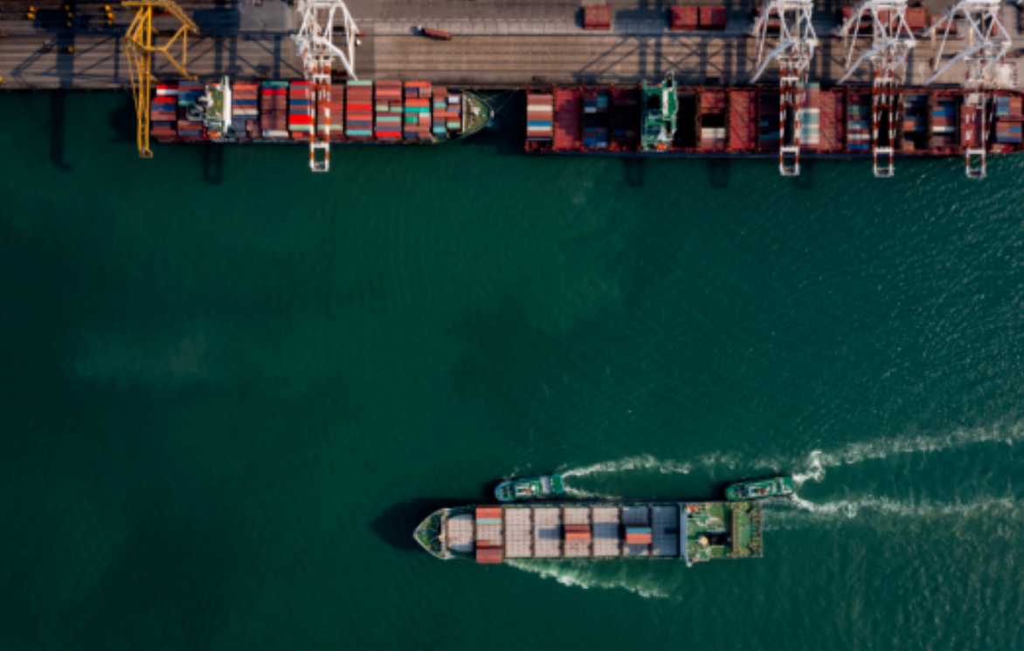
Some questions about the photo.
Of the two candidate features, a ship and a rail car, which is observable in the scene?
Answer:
ship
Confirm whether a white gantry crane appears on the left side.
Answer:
Yes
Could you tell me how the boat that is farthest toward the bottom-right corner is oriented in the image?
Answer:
horizontally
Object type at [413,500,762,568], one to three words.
ship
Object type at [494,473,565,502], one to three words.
boat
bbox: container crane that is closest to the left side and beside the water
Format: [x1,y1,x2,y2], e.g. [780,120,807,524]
[118,0,198,160]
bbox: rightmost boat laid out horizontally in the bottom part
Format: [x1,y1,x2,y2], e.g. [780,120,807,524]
[725,474,795,502]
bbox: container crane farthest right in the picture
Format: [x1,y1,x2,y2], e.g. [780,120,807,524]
[916,0,1020,178]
